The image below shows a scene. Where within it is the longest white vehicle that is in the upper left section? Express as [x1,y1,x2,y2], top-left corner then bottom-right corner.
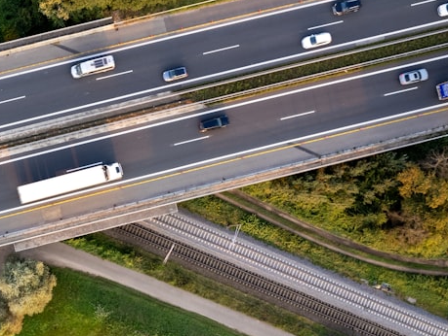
[72,54,116,77]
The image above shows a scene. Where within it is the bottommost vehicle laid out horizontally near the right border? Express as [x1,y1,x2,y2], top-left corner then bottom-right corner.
[396,68,426,84]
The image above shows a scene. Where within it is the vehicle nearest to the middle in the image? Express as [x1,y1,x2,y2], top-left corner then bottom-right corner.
[198,113,228,130]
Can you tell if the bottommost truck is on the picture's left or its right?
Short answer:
left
